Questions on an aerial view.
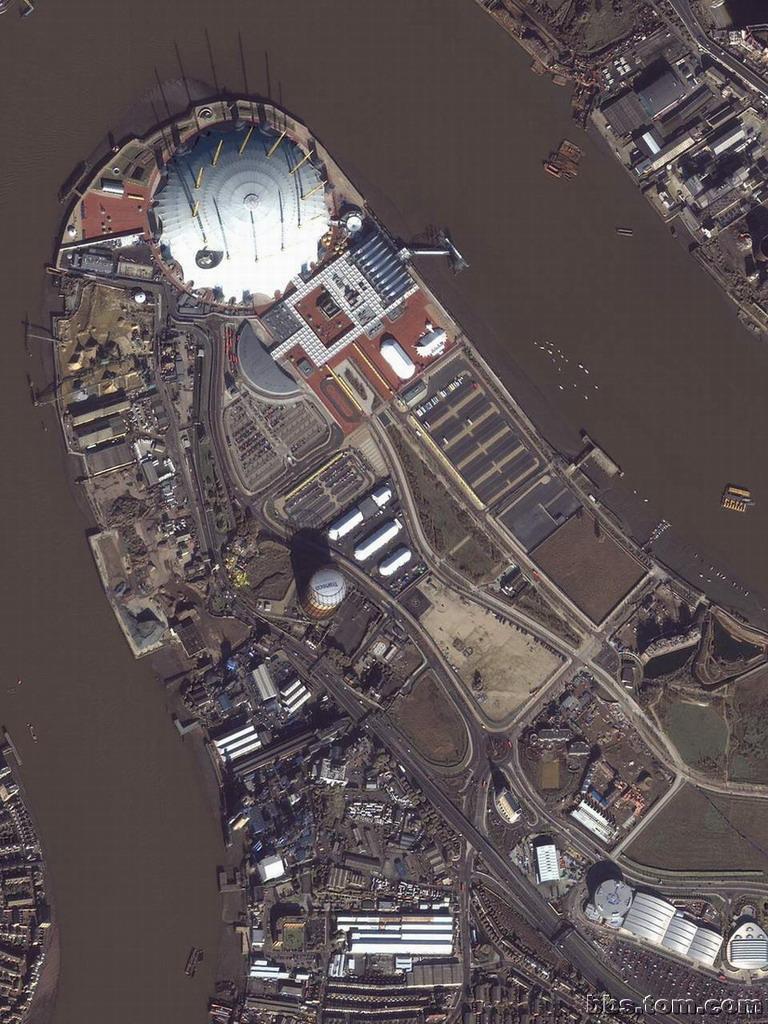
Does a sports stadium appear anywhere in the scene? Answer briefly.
Yes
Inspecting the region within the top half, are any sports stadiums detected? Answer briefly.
Yes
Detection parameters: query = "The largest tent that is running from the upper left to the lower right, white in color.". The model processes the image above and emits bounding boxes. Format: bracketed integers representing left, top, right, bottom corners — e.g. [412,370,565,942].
[380,344,412,381]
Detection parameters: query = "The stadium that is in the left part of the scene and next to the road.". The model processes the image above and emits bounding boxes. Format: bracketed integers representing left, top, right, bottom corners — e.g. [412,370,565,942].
[148,110,336,312]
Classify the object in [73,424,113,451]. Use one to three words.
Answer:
building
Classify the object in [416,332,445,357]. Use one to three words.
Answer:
tent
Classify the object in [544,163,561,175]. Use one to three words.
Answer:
ship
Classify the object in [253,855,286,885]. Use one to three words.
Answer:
building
